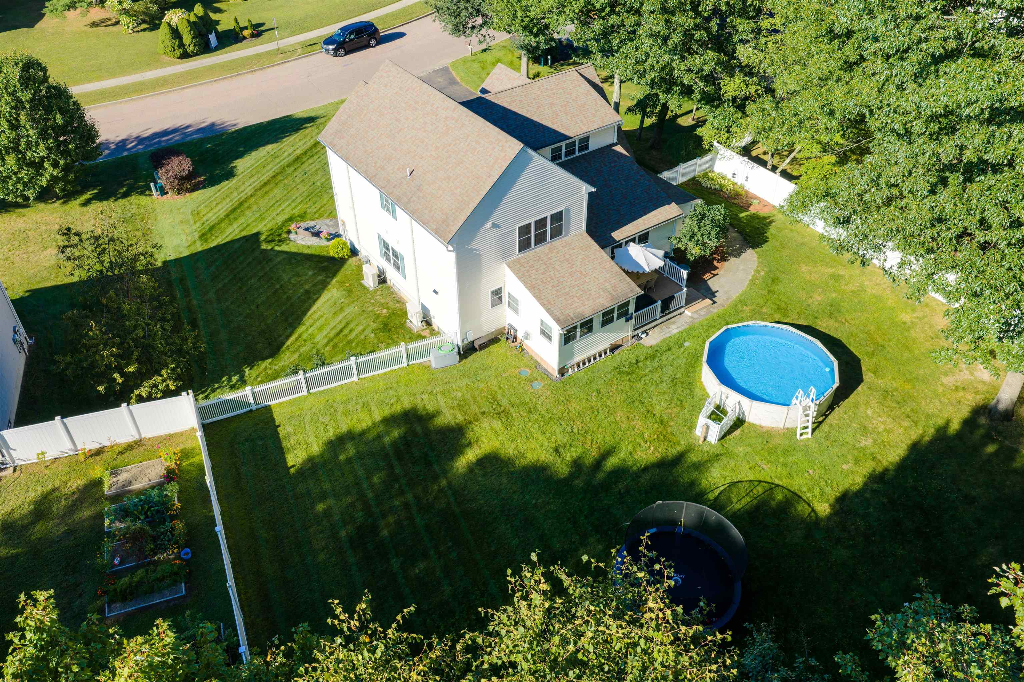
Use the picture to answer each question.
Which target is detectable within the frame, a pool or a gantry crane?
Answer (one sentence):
This aerial view contains a pool.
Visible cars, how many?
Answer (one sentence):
There is 1 car in the image.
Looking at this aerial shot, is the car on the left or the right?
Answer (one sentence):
The car appears in the left half of the scene.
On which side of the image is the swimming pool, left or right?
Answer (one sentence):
The swimming pool sits on the right side.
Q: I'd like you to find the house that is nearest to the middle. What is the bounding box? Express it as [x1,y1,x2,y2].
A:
[316,59,698,382]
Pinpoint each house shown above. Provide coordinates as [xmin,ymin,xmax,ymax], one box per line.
[316,59,698,382]
[0,279,38,429]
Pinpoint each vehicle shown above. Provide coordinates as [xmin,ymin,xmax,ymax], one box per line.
[317,18,382,57]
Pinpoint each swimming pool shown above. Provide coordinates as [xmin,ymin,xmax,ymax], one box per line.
[701,321,839,427]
